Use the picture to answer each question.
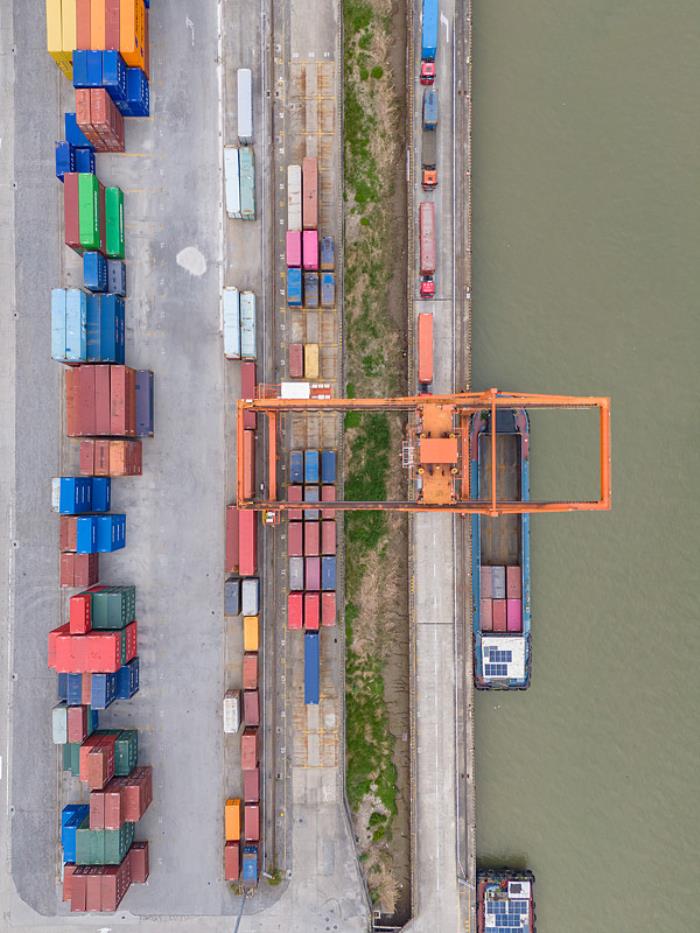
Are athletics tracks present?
No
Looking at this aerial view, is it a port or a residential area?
port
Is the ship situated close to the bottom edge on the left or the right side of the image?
right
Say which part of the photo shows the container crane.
center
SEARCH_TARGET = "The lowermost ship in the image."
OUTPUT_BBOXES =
[476,865,537,933]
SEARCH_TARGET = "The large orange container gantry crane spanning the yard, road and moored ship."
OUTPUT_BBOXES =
[239,383,610,538]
